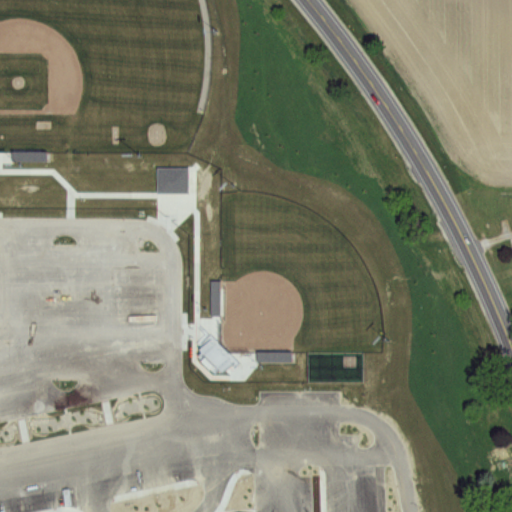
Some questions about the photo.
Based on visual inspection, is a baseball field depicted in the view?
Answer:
Yes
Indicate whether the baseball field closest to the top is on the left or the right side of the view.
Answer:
left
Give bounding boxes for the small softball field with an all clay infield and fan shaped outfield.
[222,191,383,352]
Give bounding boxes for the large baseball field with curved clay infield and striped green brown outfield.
[0,0,204,153]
